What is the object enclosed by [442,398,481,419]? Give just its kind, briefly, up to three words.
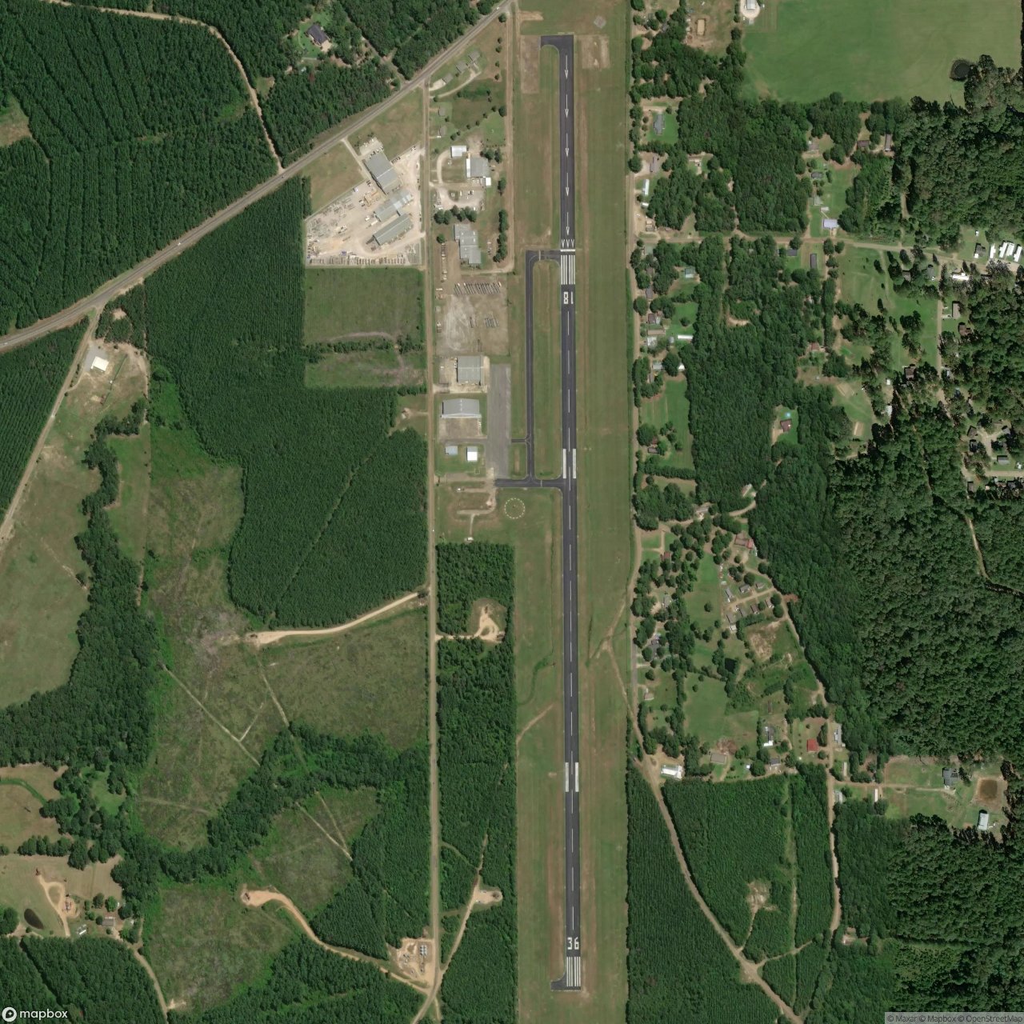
hangar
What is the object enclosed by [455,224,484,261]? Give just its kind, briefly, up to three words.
building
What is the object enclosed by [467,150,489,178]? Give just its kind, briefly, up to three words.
building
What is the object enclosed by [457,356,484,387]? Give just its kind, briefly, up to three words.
hangar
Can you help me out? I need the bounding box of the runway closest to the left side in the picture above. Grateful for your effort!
[541,35,581,990]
